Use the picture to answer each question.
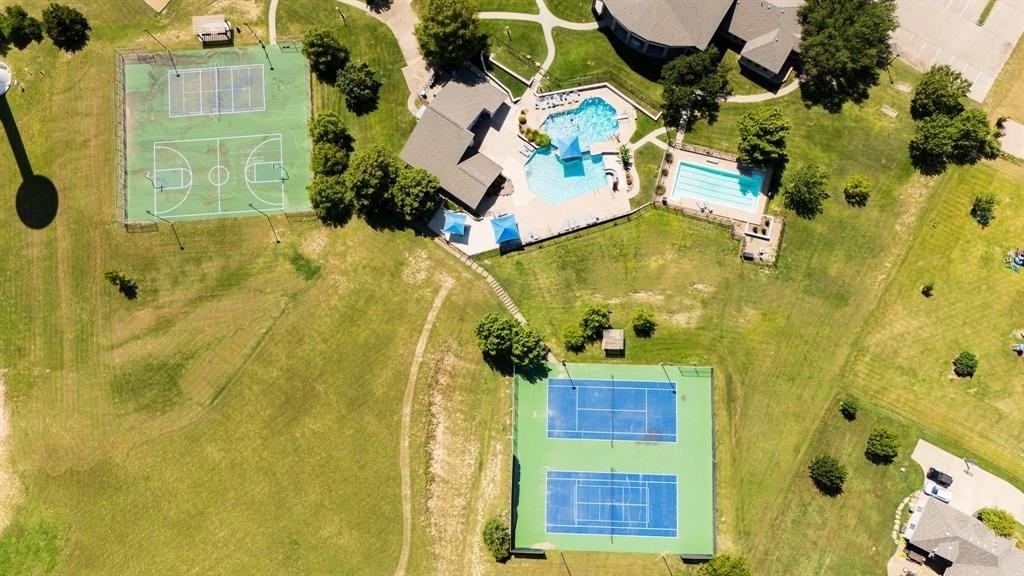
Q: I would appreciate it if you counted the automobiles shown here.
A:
2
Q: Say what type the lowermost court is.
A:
tennis court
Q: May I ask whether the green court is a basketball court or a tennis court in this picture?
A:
basketball court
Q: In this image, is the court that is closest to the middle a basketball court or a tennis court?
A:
tennis court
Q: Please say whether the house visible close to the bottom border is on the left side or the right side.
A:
right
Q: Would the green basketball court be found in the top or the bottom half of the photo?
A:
top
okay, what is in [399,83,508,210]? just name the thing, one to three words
building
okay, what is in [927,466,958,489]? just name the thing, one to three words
car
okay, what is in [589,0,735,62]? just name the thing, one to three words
building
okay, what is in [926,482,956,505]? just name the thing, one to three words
car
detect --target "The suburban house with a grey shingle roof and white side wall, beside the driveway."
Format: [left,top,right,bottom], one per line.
[902,495,1024,576]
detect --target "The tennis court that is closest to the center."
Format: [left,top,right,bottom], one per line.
[548,378,678,443]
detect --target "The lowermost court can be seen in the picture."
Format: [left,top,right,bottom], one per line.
[545,470,679,538]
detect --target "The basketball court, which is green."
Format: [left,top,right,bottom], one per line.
[154,134,284,217]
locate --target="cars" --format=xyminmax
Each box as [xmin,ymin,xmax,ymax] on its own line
[927,466,958,489]
[926,482,956,505]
